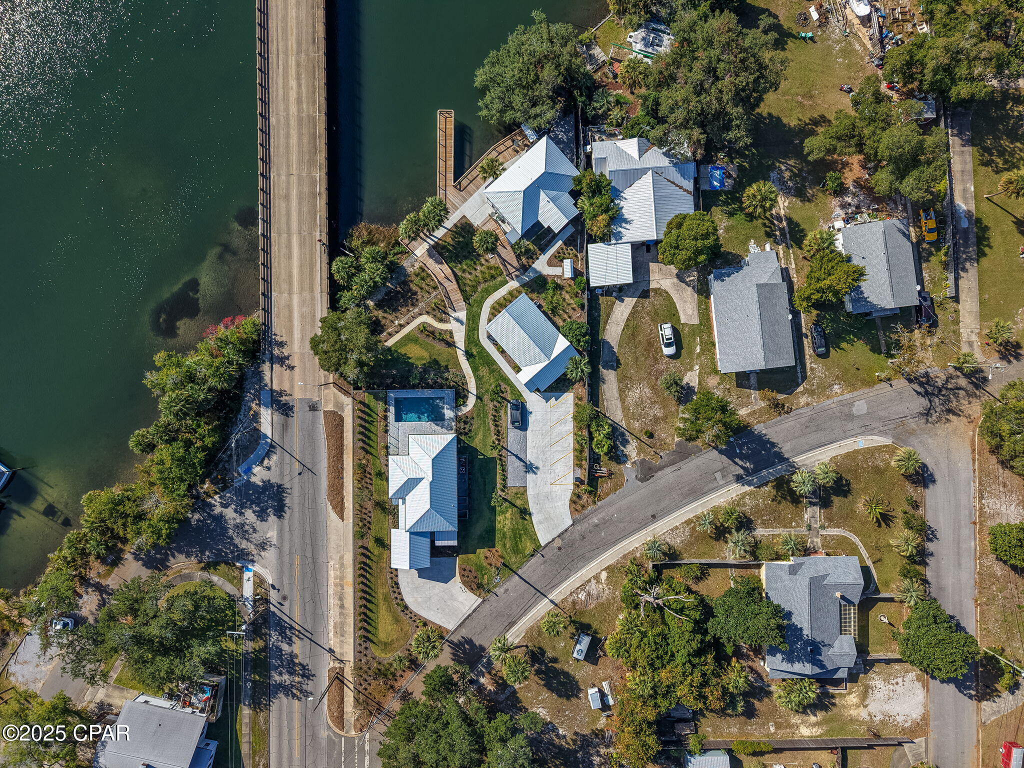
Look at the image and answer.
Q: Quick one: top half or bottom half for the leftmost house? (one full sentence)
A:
The bottom half of the photo is where the leftmost house is.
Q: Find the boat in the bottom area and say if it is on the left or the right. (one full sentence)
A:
The boat in the bottom area is on the left side of the image.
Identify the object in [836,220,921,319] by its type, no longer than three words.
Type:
house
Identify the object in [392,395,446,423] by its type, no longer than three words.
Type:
swimming pool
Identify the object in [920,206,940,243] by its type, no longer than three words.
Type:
vehicle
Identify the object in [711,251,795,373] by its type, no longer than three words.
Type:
house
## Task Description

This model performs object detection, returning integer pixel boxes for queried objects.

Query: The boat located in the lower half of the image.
[0,464,21,488]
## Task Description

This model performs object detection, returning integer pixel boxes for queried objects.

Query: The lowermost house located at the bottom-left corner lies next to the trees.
[98,688,227,768]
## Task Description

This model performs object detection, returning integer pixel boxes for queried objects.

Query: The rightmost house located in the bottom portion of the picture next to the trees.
[760,554,864,688]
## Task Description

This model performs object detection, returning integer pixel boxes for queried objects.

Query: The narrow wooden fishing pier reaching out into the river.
[438,107,454,199]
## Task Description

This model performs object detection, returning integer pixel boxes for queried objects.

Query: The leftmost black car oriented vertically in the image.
[509,399,523,427]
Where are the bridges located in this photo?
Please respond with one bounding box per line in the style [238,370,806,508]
[255,0,330,353]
